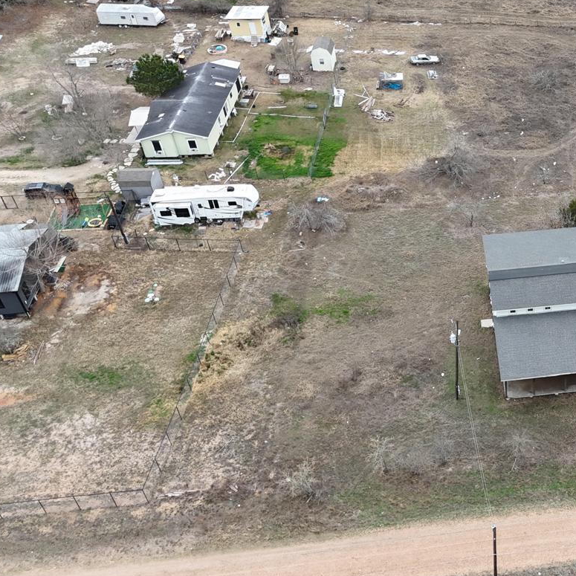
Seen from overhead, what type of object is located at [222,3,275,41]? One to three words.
shed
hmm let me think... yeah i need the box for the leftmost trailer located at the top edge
[98,5,174,30]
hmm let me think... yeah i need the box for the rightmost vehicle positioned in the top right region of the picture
[408,52,441,67]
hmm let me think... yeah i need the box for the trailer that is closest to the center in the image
[150,183,265,230]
